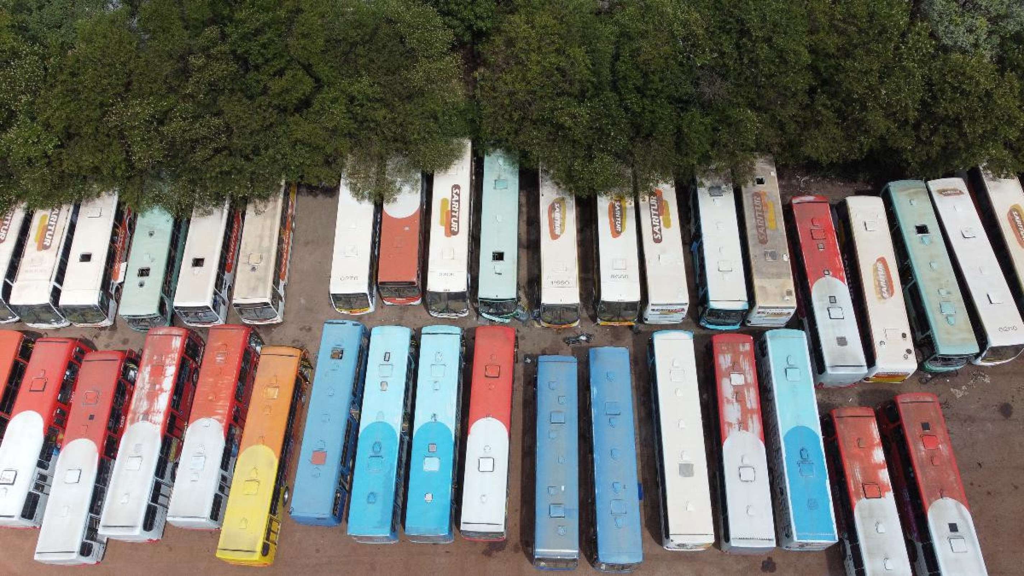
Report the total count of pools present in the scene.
none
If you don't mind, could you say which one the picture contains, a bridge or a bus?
bus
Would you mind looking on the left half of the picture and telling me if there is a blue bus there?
Yes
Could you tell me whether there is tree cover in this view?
Yes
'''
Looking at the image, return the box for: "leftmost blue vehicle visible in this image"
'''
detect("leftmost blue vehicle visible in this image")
[290,323,371,529]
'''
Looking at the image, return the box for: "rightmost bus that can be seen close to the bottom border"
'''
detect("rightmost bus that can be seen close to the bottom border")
[876,395,986,576]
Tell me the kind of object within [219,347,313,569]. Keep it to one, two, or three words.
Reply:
bus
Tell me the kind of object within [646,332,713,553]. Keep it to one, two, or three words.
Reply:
bus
